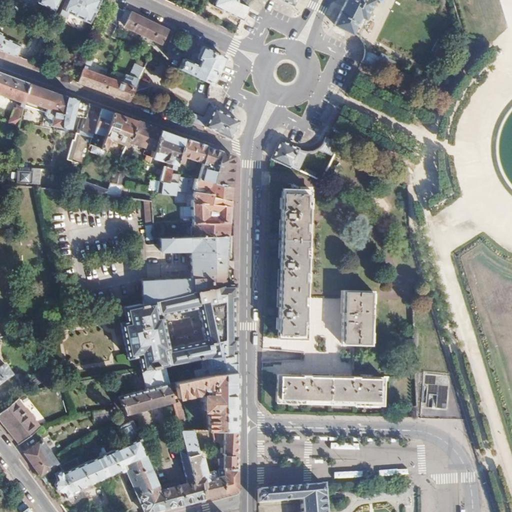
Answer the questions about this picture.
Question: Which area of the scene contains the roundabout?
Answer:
top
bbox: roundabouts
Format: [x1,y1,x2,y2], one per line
[225,0,352,160]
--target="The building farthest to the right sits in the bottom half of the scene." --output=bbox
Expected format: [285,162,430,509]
[422,373,449,410]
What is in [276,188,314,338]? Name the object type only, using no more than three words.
building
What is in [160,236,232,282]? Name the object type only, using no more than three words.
building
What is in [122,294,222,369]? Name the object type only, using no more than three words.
house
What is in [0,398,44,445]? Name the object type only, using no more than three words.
house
